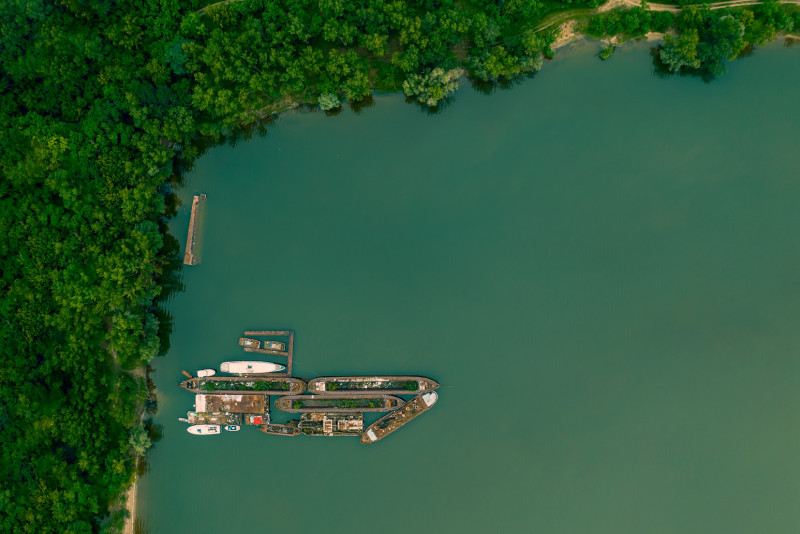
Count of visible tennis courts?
0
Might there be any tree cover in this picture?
Yes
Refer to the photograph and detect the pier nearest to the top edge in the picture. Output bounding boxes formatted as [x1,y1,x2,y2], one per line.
[236,331,295,377]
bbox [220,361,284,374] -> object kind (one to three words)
boat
